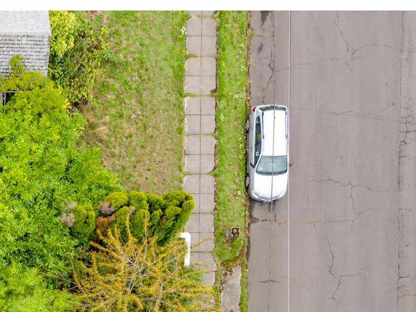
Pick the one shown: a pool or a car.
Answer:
car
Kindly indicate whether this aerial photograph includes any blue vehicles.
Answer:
No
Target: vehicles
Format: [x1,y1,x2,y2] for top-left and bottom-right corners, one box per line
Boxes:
[243,104,294,202]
